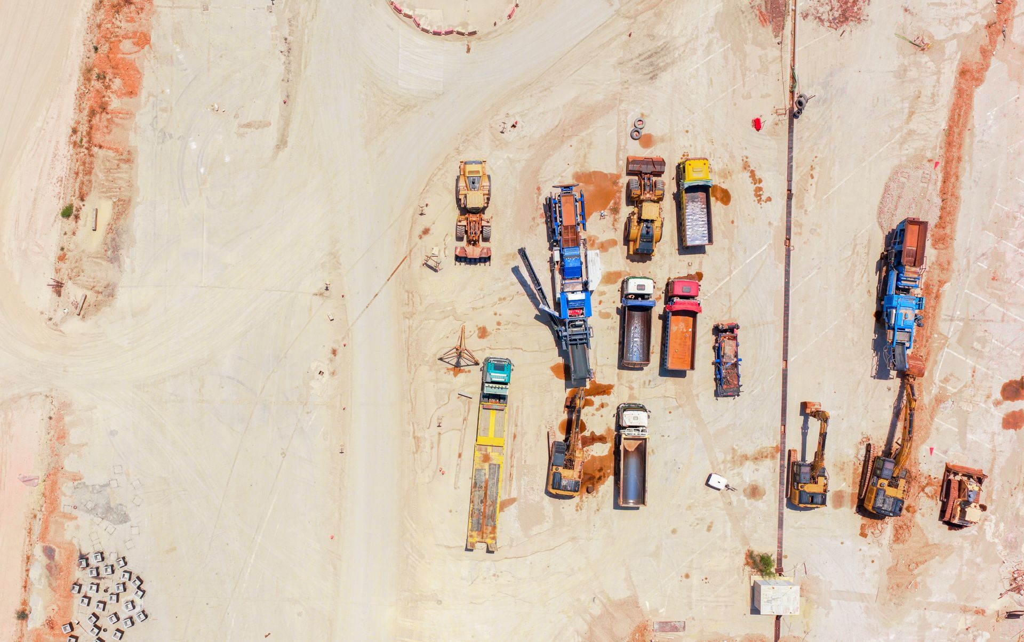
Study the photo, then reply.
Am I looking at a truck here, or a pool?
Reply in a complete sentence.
Looking from above, you can make out a truck.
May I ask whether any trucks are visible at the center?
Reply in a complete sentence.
Yes, at the center there is a truck.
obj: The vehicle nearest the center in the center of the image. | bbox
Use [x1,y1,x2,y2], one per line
[480,354,515,410]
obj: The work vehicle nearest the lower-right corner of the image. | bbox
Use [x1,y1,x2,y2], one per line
[936,462,988,530]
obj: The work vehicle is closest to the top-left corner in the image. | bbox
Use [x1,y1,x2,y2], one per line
[455,157,491,264]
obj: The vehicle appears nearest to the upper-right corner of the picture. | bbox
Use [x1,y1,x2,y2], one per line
[679,156,714,245]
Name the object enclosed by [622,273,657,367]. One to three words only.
truck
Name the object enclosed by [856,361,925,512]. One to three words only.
work vehicle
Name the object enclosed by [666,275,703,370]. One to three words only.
truck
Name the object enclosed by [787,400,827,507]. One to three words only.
work vehicle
